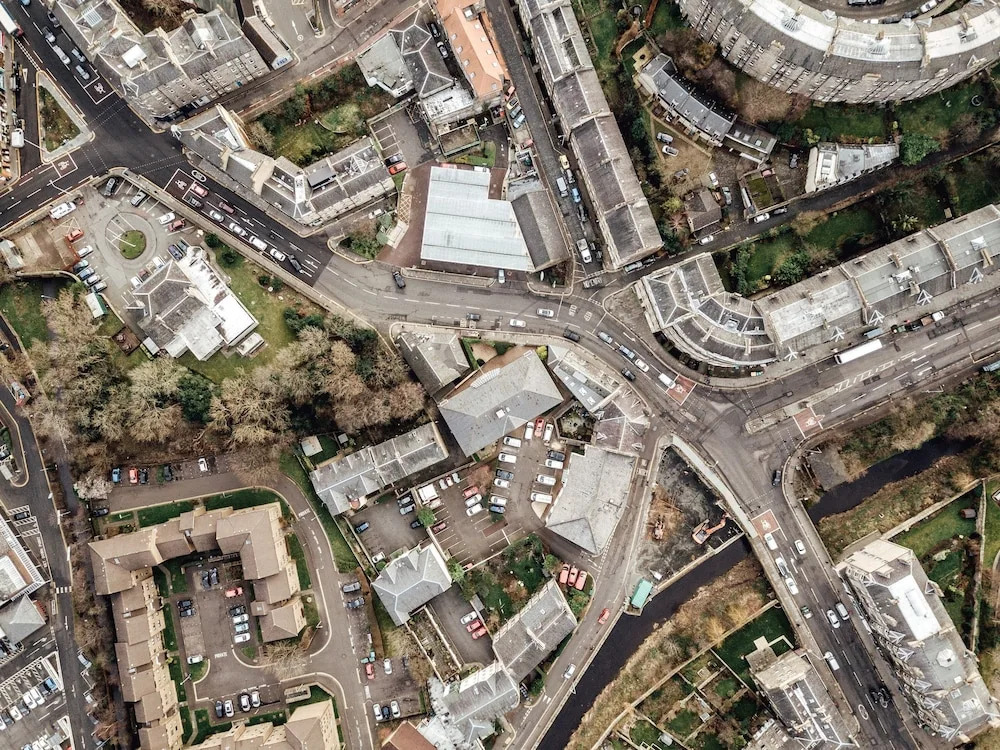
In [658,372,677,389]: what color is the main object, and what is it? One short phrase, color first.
white vehicle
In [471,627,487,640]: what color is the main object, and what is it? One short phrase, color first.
pink vehicle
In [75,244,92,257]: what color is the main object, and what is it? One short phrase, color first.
white vehicle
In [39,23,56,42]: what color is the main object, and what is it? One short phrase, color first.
gray car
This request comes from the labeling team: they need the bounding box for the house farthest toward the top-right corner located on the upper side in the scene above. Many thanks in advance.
[800,141,899,196]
